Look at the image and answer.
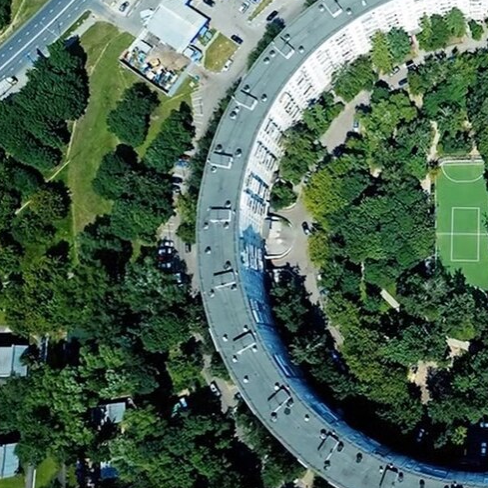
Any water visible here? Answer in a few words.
No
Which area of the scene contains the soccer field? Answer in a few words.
right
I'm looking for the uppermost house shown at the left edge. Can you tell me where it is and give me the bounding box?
[0,345,36,376]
